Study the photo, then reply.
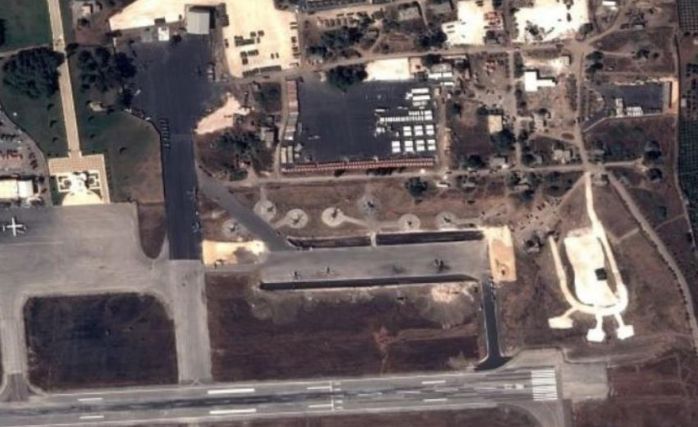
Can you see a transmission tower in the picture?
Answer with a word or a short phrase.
No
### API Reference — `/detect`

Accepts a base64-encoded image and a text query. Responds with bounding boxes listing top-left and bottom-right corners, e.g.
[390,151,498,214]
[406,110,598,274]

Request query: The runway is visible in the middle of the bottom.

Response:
[0,367,564,427]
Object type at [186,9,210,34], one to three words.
hangar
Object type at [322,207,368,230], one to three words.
helipad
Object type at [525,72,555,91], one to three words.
house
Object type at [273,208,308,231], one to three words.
helipad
